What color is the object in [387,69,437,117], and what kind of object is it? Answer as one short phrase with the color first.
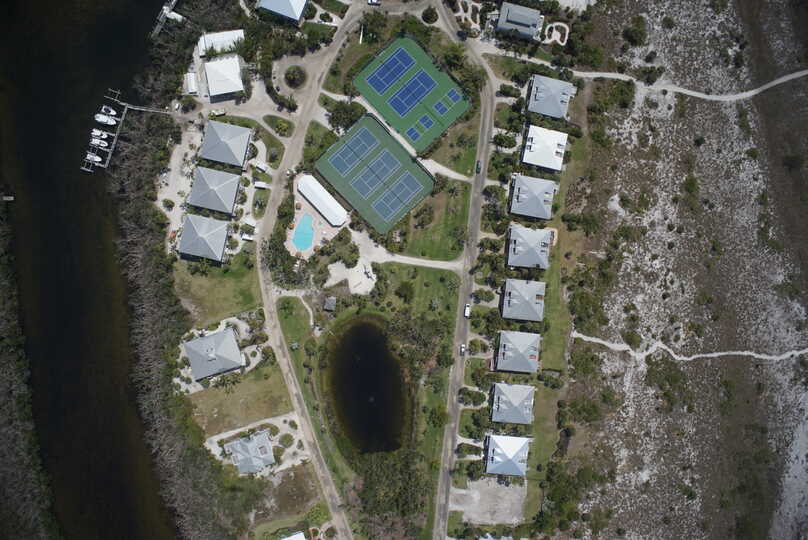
blue tennis court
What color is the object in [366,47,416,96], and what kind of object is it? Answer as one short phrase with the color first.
blue tennis court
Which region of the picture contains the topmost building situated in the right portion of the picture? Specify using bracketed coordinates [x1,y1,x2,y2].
[496,2,541,40]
